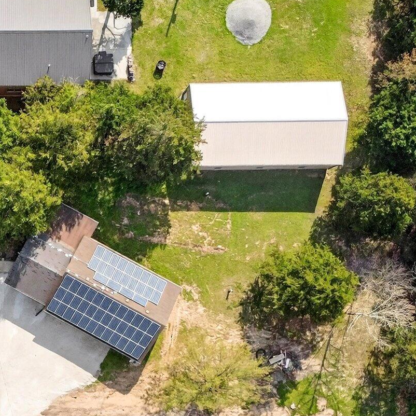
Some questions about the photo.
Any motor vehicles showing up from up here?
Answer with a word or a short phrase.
No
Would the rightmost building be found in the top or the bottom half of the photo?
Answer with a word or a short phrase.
top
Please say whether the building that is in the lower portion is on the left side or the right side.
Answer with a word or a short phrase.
left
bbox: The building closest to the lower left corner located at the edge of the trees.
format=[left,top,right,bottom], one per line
[4,202,182,364]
